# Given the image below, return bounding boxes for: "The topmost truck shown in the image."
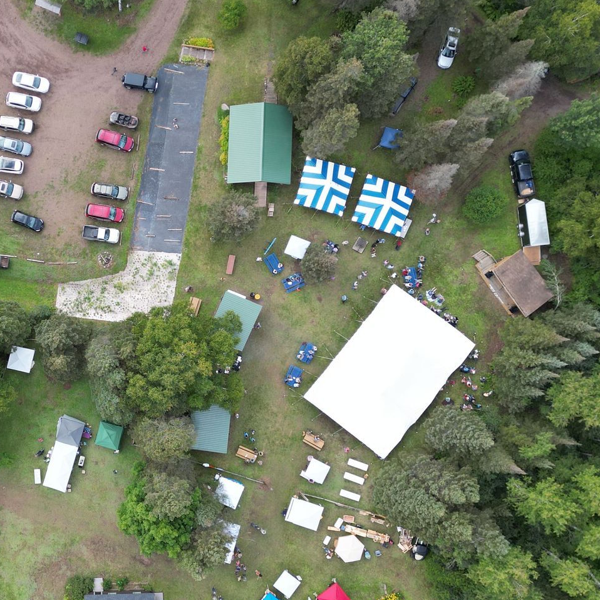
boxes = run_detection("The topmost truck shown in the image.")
[434,26,460,70]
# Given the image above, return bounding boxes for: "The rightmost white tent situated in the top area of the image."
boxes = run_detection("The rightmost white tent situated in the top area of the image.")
[342,175,414,242]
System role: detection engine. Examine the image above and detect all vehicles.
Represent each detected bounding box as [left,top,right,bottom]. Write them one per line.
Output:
[12,72,50,94]
[94,128,135,151]
[434,26,460,70]
[0,256,8,268]
[5,90,42,113]
[90,181,128,201]
[510,149,534,200]
[0,180,23,200]
[0,115,34,135]
[0,155,25,175]
[122,73,156,92]
[0,136,33,156]
[85,203,124,223]
[80,224,121,244]
[9,209,45,232]
[112,113,137,128]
